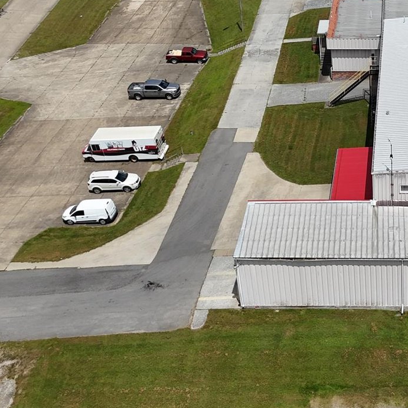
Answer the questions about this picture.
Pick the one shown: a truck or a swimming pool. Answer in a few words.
truck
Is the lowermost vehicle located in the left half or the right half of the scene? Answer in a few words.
left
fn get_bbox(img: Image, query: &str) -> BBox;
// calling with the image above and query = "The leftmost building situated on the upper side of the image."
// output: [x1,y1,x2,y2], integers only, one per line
[315,0,382,78]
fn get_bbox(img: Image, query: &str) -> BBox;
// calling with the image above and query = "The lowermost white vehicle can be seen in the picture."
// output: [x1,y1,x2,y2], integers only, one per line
[58,195,118,222]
